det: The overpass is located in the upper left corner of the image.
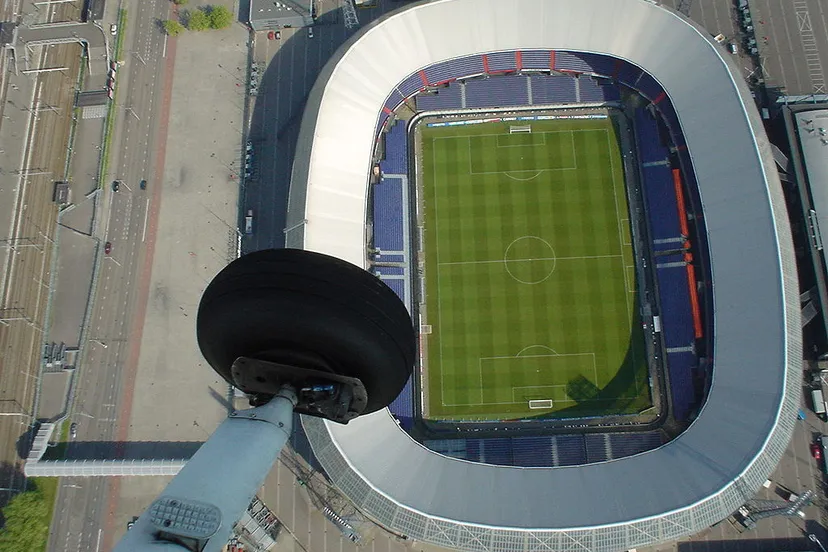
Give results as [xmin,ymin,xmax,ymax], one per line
[12,19,109,91]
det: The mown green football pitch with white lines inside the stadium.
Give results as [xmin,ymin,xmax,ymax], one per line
[416,119,654,419]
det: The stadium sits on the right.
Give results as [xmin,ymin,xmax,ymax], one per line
[285,0,805,552]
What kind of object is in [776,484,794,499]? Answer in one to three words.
vehicle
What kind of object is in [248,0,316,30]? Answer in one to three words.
building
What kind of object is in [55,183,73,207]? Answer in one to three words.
shed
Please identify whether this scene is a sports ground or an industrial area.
sports ground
